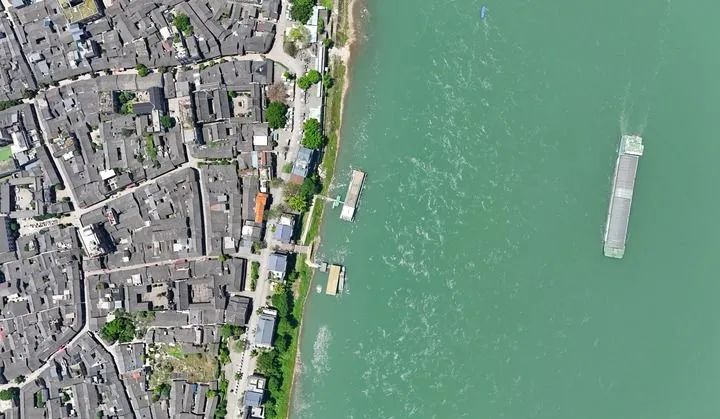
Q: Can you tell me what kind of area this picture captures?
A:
residential area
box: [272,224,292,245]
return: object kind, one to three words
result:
house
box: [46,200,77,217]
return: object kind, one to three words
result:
house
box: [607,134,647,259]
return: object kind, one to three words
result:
ship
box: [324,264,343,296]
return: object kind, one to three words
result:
pier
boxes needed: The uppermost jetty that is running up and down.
[338,169,365,224]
